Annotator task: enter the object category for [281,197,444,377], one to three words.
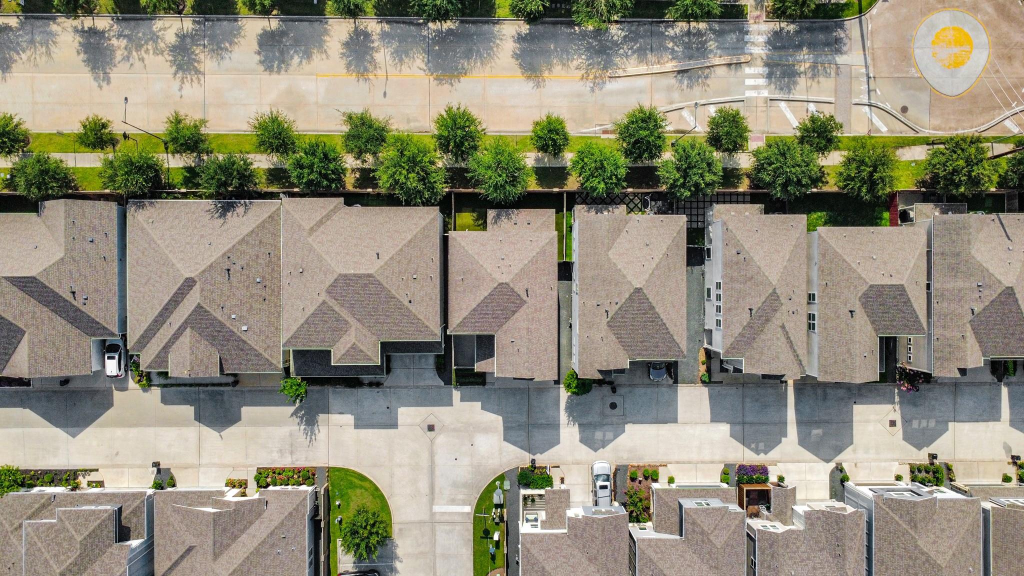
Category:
house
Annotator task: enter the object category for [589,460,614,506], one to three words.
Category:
car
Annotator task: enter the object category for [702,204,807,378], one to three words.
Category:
house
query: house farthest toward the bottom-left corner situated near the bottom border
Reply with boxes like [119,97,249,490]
[0,487,154,576]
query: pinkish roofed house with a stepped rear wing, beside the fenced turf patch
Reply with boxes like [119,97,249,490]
[448,209,558,380]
